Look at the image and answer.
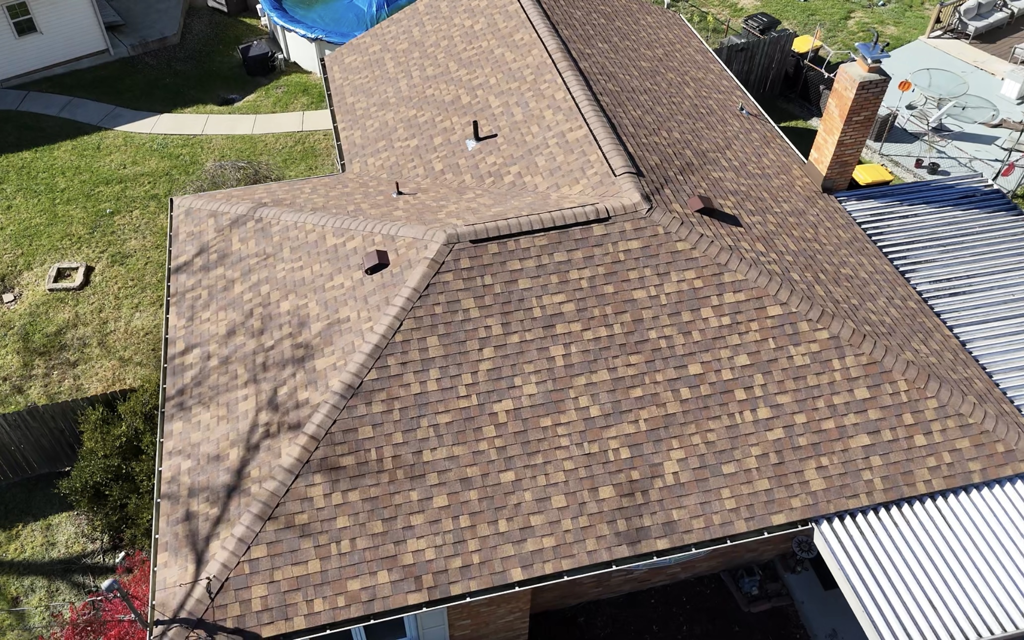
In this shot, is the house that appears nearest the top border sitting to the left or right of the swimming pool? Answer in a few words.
to the left of it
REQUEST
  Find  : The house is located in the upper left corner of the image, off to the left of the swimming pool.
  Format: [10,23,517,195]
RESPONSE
[0,0,115,85]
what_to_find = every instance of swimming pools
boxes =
[255,0,410,77]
